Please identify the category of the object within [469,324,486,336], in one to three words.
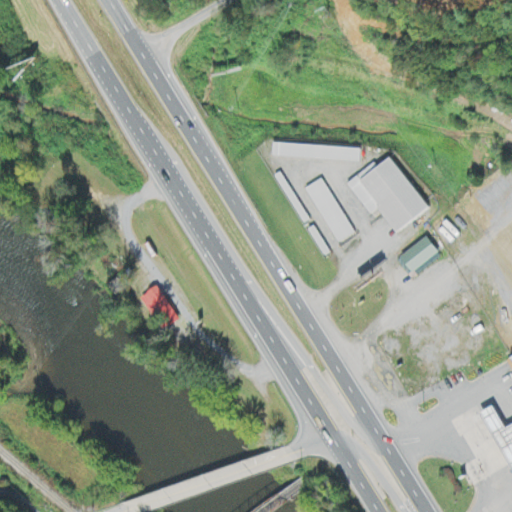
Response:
vehicle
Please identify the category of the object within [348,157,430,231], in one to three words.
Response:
building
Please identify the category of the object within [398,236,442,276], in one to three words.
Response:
building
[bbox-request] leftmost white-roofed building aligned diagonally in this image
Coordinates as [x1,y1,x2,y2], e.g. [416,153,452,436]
[276,171,310,221]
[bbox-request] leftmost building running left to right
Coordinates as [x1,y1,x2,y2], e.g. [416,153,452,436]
[272,142,362,161]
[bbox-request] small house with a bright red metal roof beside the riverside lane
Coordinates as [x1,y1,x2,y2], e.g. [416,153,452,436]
[141,286,180,328]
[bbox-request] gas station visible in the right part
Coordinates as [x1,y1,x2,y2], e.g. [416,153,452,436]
[481,406,512,461]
